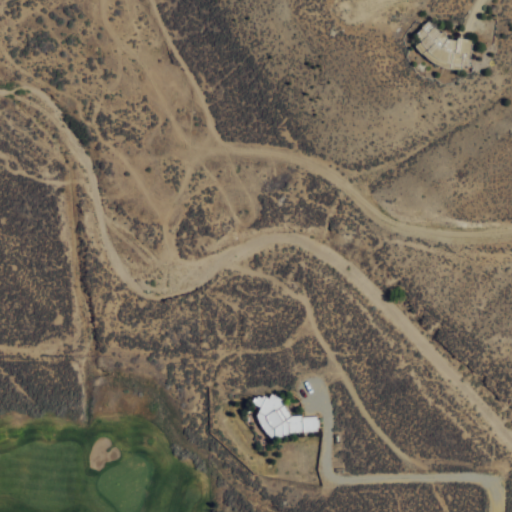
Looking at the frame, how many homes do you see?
two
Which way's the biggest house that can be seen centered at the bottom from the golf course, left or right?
to the right of it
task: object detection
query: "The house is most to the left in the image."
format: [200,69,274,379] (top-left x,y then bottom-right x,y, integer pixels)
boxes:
[253,394,320,438]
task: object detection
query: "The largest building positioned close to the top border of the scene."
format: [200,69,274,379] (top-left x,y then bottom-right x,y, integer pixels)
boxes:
[416,21,474,69]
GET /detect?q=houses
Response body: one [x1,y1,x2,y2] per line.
[253,394,320,438]
[416,21,474,69]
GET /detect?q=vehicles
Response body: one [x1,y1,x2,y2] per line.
[305,382,314,394]
[300,388,306,398]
